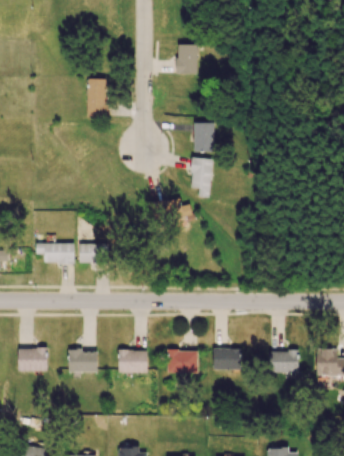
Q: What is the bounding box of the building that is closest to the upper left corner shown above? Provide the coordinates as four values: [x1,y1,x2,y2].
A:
[88,78,107,117]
